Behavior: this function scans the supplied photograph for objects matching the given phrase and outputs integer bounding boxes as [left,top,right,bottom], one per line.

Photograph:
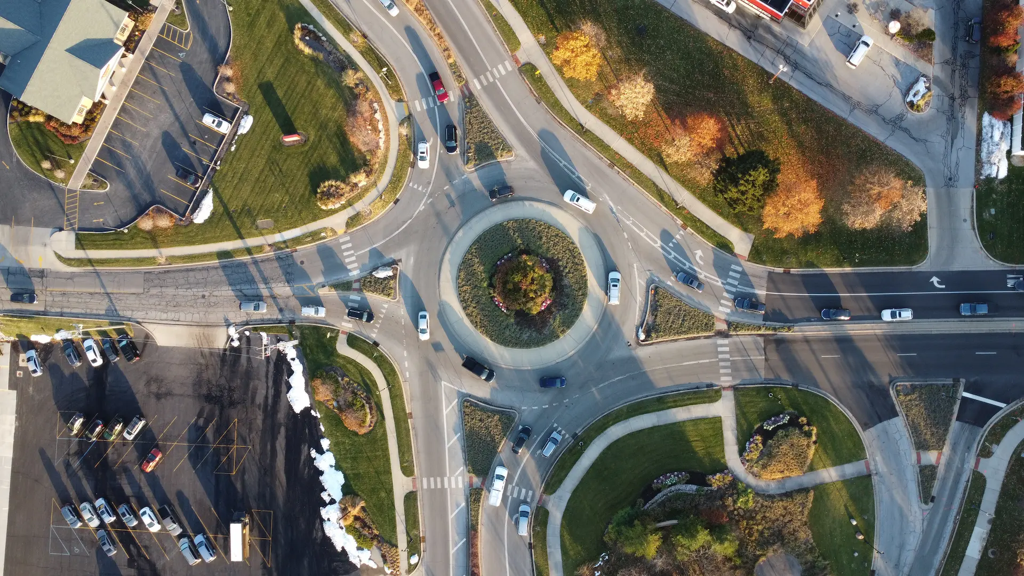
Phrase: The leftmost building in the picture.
[0,0,134,124]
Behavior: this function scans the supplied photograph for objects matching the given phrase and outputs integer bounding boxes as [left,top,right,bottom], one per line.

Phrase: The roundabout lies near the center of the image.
[404,166,641,402]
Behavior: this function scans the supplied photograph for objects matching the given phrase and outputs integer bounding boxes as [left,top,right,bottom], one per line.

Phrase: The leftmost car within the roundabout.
[416,311,431,340]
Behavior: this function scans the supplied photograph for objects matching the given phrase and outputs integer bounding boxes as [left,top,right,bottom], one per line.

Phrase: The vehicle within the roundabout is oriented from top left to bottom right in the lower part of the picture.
[460,355,497,383]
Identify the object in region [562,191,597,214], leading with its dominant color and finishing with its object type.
white vehicle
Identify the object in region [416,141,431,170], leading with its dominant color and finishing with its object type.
white car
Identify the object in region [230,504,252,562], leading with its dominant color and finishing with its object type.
white truck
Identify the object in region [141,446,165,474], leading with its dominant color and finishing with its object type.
red car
